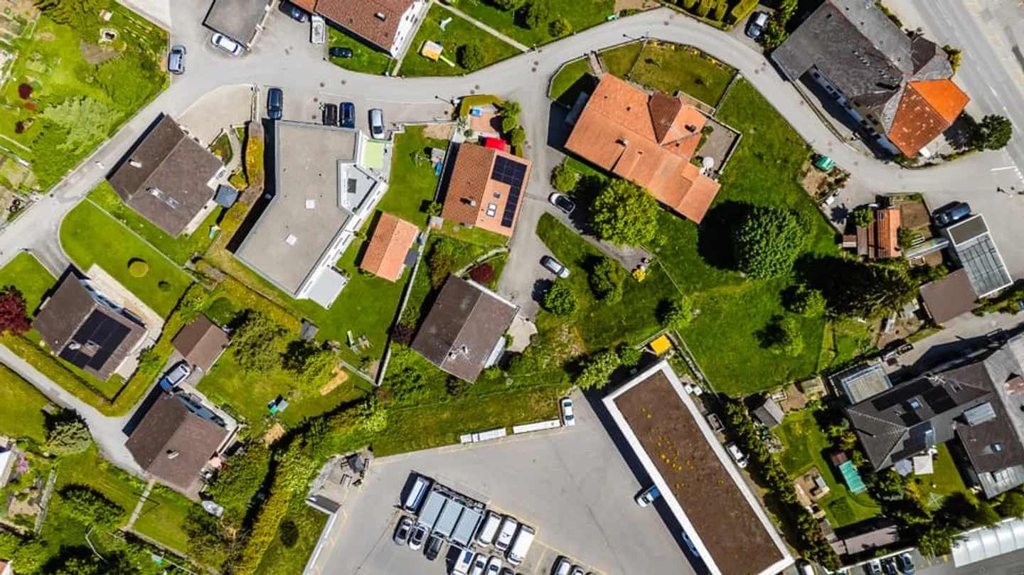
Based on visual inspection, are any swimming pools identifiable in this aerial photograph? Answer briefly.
Yes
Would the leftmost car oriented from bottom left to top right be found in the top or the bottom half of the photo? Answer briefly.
bottom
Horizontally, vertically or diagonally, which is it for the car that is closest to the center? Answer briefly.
diagonally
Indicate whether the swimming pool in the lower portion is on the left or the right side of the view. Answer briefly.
right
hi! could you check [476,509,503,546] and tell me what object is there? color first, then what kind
white vehicle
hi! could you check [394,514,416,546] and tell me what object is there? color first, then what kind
gray car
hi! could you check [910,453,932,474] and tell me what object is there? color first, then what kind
white umbrella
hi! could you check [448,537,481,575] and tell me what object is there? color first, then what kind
white truck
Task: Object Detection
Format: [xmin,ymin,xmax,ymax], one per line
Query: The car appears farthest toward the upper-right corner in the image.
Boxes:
[929,202,972,225]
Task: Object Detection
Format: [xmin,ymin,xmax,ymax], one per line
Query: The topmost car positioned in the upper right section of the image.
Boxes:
[744,9,770,41]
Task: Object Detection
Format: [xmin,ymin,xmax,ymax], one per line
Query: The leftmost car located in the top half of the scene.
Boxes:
[169,44,187,76]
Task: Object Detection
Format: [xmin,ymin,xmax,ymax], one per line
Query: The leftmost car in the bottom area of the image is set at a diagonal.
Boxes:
[160,360,195,392]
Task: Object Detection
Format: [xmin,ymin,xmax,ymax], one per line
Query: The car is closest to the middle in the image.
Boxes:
[538,253,572,280]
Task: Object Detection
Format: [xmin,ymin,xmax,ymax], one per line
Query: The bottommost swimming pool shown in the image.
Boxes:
[839,460,865,493]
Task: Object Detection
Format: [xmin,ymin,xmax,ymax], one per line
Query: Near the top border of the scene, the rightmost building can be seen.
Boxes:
[768,0,969,158]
